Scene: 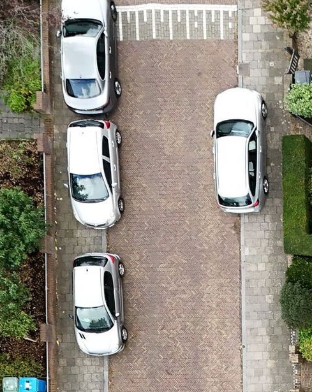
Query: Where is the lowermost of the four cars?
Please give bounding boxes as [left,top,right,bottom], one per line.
[67,245,131,361]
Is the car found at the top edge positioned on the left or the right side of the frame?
left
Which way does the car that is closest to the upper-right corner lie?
vertically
